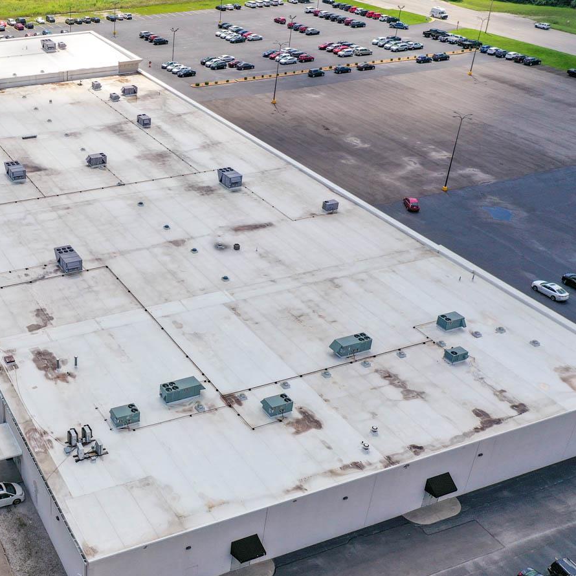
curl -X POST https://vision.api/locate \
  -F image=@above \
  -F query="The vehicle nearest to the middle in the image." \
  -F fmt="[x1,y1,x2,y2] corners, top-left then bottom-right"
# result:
[402,196,423,211]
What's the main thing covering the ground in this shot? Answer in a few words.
buildings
